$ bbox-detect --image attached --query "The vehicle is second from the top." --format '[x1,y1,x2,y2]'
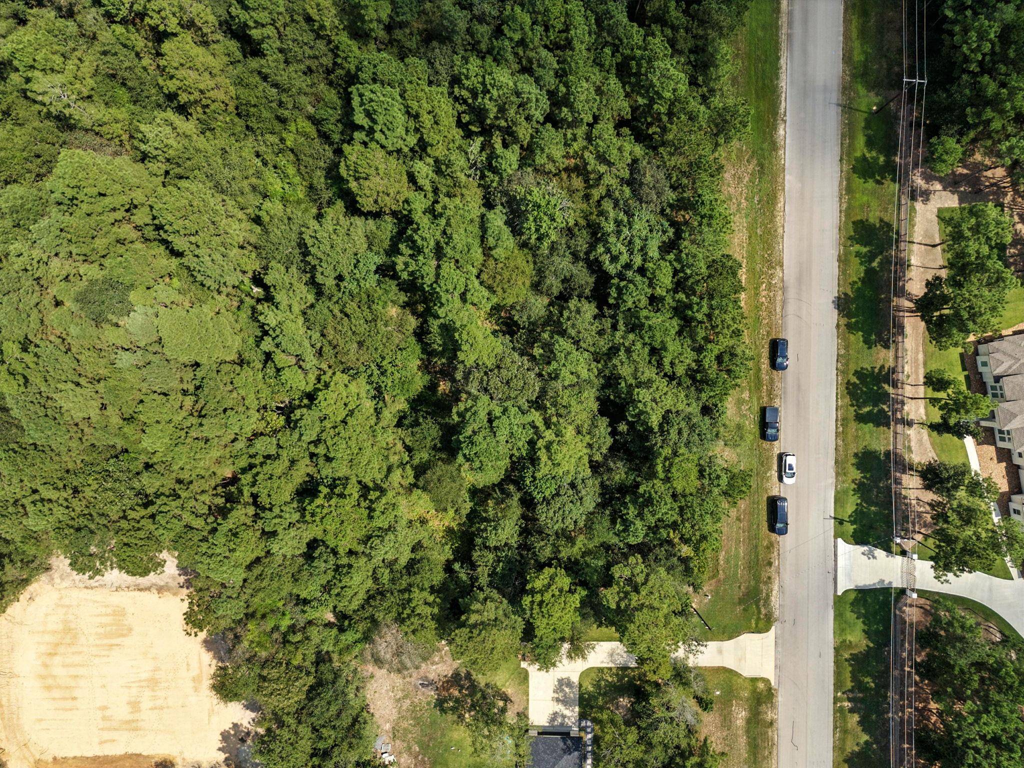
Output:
[763,405,780,442]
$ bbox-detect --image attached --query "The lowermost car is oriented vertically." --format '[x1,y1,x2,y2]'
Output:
[771,497,789,534]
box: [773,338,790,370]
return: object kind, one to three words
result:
car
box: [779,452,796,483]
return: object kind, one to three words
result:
car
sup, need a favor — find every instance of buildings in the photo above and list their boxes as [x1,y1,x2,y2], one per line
[976,332,1024,544]
[526,729,585,768]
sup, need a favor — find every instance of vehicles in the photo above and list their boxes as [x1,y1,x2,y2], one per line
[763,405,780,442]
[771,497,789,534]
[779,452,796,483]
[773,338,790,370]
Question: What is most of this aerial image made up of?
trees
